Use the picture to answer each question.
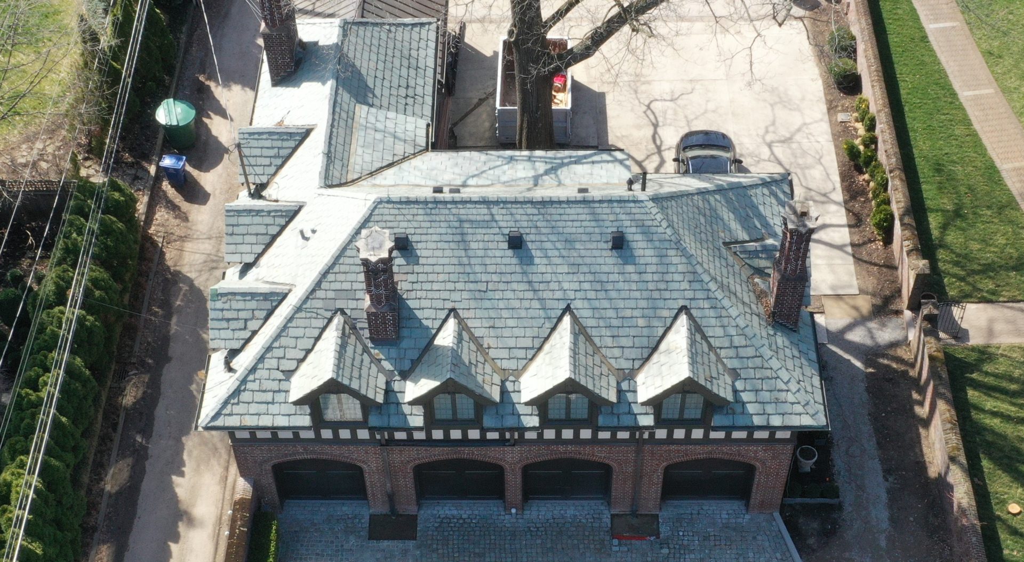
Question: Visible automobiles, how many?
1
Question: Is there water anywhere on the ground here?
No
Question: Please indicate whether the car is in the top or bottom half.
top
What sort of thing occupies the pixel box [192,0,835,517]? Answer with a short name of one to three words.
house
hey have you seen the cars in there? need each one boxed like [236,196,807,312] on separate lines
[674,125,748,173]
